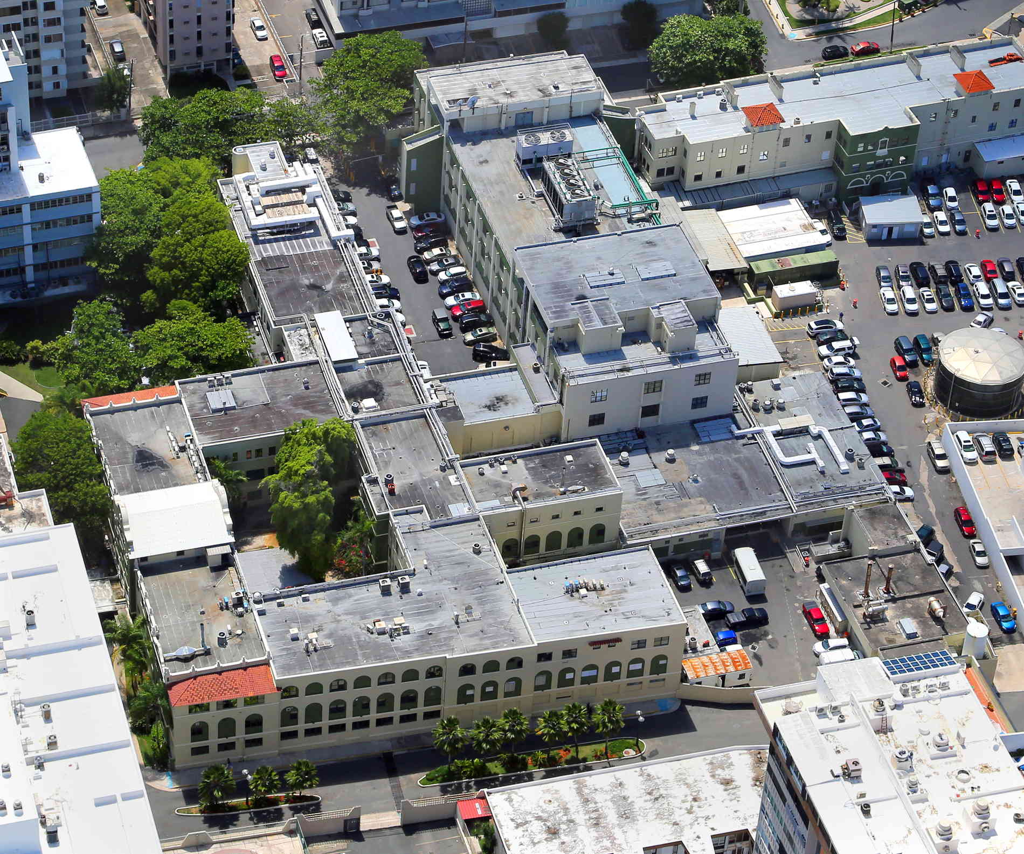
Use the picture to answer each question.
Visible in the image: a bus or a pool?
bus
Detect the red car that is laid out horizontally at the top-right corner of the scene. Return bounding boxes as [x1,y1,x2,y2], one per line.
[849,42,881,57]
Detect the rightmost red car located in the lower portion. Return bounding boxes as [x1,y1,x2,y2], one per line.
[954,506,975,538]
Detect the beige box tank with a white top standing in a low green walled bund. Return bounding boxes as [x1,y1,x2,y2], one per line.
[768,274,825,309]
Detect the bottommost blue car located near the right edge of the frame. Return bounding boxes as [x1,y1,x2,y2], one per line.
[992,603,1014,635]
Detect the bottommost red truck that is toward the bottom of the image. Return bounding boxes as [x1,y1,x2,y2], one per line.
[803,602,829,640]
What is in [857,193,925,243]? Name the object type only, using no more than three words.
building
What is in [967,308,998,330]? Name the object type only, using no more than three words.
car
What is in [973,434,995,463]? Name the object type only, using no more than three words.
vehicle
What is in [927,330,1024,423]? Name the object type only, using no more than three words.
water tank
